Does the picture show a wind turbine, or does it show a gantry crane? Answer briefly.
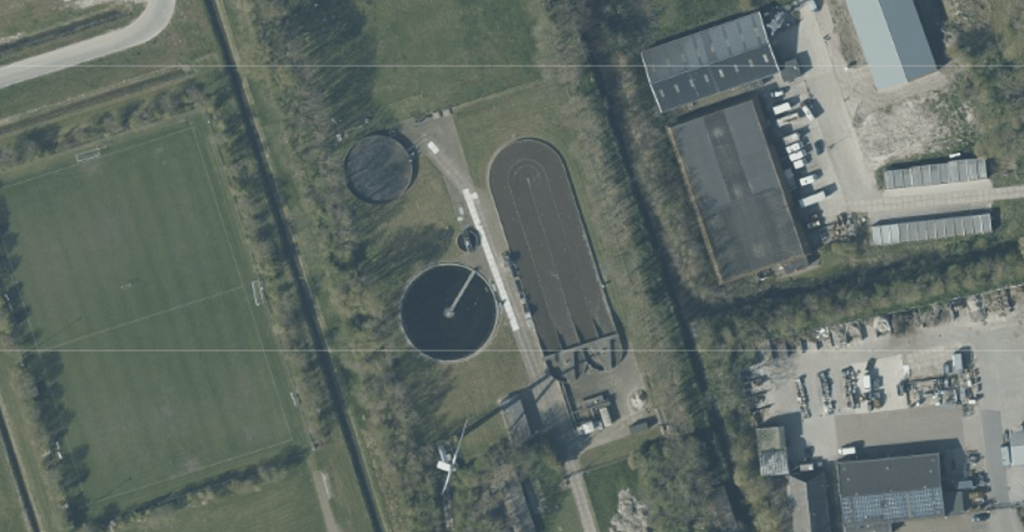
wind turbine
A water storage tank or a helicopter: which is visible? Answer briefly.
water storage tank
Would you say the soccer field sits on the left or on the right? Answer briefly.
left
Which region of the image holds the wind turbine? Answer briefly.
bottom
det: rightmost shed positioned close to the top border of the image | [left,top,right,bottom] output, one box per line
[845,0,937,91]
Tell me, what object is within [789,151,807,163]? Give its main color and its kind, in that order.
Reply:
white vehicle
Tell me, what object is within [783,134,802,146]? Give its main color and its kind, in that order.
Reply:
white vehicle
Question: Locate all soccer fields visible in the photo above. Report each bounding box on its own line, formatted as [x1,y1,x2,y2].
[0,117,300,516]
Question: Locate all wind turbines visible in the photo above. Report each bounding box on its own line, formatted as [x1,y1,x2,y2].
[434,420,469,497]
